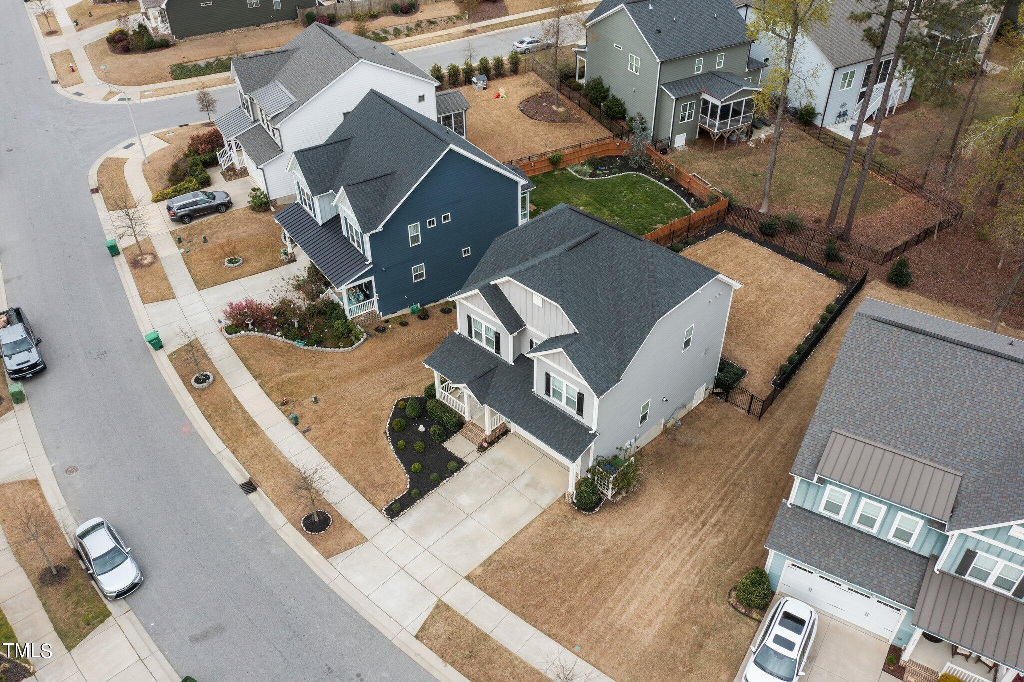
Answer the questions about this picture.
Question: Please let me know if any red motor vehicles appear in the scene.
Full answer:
No, there appears to be no red motor vehicle in this shot.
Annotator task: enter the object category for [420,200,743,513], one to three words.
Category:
house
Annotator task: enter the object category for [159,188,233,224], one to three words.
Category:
car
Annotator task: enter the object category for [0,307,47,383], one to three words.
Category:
truck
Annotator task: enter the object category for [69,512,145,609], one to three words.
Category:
car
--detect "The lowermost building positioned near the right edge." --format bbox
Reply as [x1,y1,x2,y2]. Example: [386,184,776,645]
[761,298,1024,682]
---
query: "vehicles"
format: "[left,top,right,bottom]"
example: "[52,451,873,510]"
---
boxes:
[512,35,557,54]
[159,188,233,224]
[742,589,821,682]
[0,307,47,383]
[69,512,145,609]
